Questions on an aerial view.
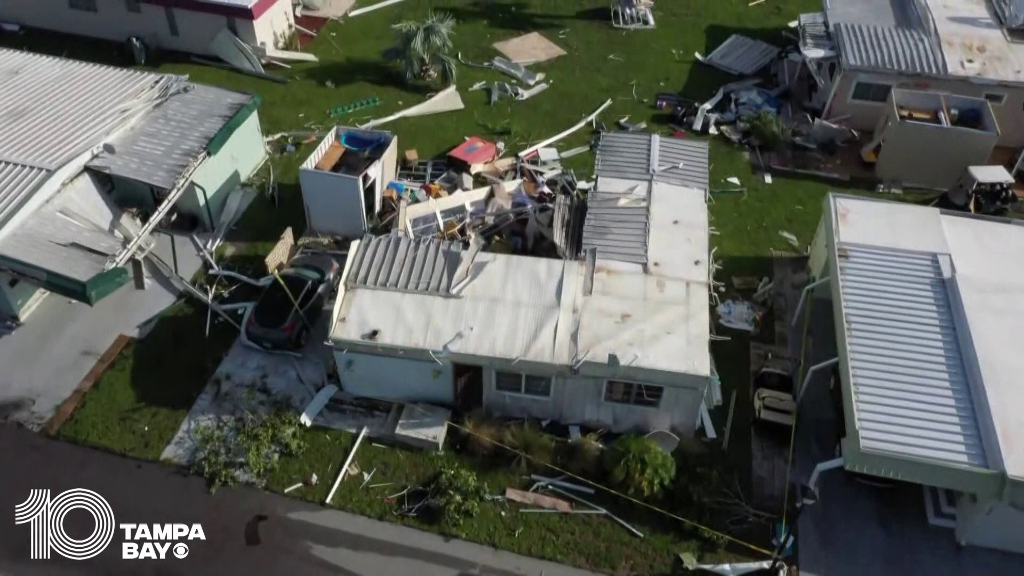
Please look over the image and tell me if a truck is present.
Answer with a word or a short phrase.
No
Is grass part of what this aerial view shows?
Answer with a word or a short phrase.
Yes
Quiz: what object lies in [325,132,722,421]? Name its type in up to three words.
house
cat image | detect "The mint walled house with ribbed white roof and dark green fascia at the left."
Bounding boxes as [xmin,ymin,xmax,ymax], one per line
[0,47,276,300]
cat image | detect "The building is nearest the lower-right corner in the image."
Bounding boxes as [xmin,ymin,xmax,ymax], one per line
[791,187,1024,550]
